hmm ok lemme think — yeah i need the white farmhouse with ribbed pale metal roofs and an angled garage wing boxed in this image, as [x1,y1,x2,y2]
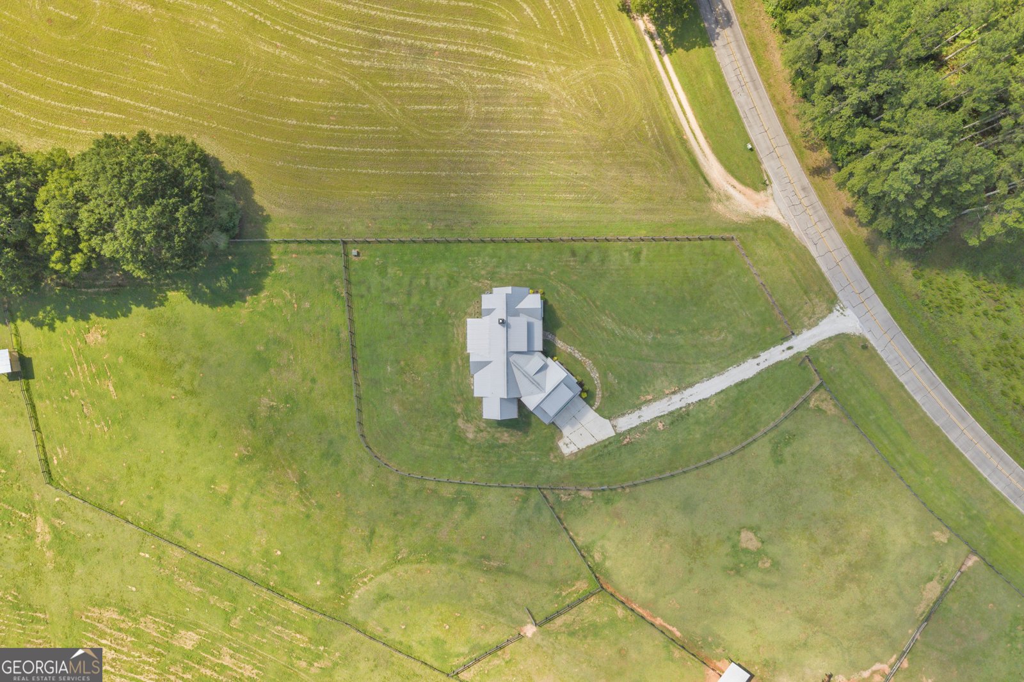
[467,286,581,424]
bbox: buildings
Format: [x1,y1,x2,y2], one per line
[719,658,750,682]
[467,286,581,424]
[0,349,22,373]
